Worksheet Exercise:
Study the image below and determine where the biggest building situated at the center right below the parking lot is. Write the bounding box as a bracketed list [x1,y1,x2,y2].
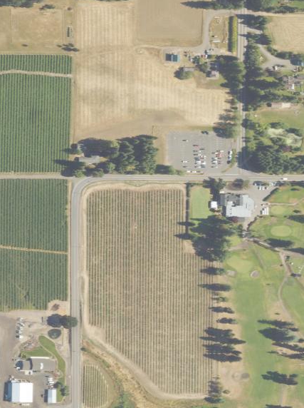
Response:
[224,195,255,216]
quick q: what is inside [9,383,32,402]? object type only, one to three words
barn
